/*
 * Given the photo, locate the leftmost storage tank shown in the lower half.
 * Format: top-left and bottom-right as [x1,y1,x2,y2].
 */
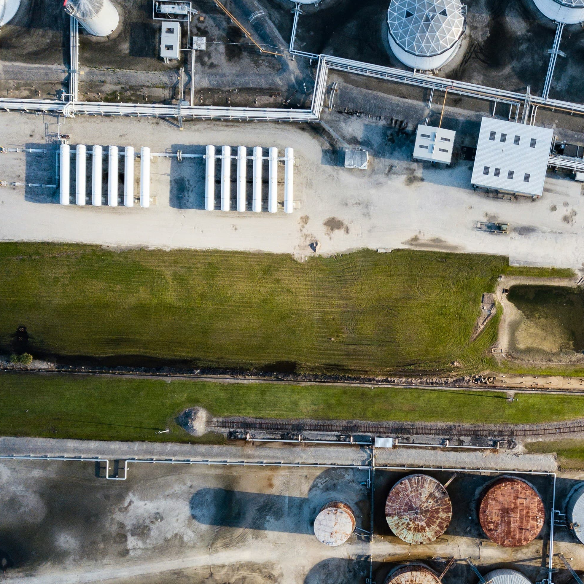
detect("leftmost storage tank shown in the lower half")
[313,498,369,548]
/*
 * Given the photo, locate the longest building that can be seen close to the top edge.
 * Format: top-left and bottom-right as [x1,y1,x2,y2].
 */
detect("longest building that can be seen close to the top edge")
[160,21,182,63]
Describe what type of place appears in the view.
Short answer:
industrial area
